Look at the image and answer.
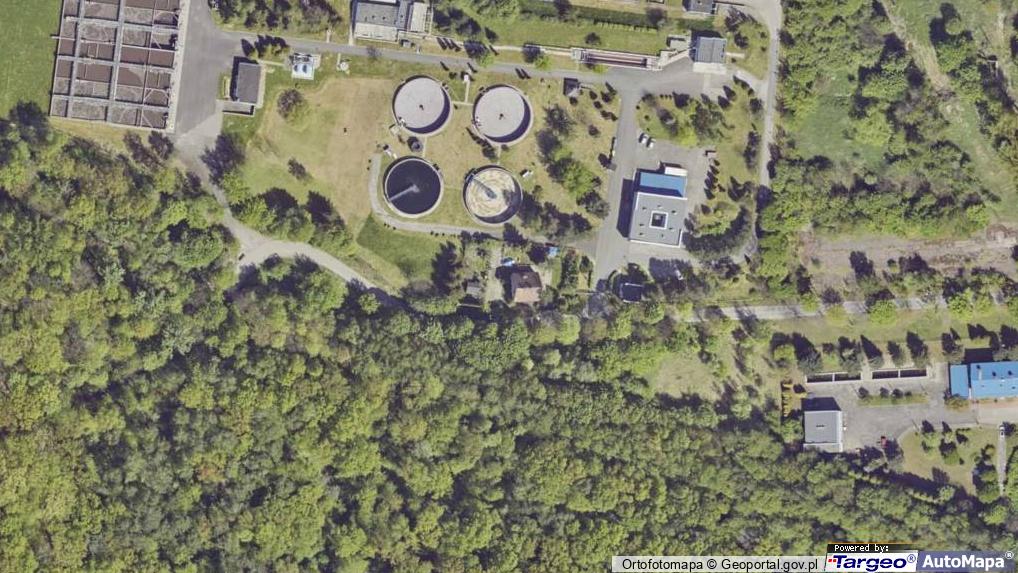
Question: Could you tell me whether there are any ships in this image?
No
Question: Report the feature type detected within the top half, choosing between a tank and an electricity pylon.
tank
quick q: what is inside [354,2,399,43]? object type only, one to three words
building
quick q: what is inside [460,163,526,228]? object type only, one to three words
storage tank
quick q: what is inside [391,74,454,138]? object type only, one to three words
storage tank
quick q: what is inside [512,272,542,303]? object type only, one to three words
house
